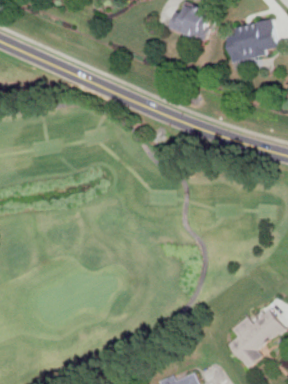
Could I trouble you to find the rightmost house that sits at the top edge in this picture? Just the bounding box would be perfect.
[226,19,278,64]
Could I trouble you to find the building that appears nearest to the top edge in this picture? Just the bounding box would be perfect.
[168,0,212,40]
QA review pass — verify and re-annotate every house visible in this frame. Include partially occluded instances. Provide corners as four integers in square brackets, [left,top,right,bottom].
[228,309,286,370]
[226,19,278,64]
[158,374,200,384]
[168,0,212,40]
